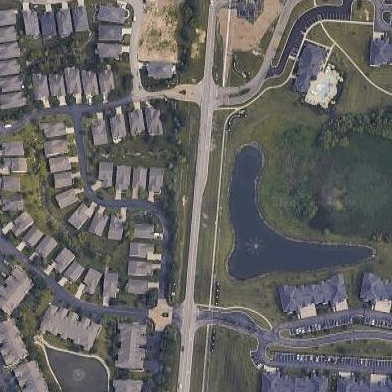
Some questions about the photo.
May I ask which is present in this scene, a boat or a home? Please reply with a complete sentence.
Of the two, only a home appears.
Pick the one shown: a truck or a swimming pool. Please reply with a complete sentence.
Visible in the photo is a swimming pool.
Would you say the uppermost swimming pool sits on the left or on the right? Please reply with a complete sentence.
The uppermost swimming pool sits on the right side.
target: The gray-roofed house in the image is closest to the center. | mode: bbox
[148,165,164,194]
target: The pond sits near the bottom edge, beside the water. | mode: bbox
[45,348,108,392]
